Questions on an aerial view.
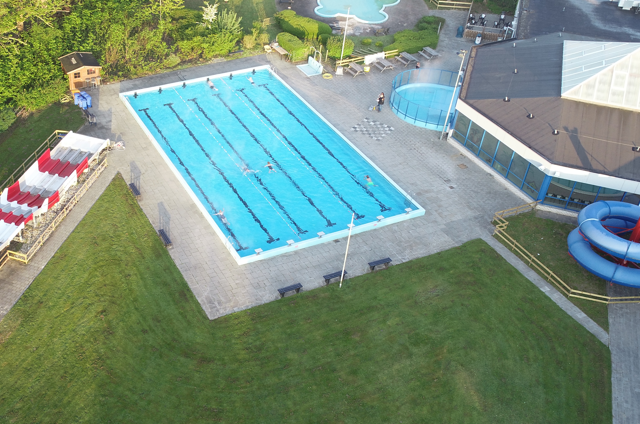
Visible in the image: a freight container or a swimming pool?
swimming pool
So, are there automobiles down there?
No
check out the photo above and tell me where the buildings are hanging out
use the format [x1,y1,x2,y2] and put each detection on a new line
[449,30,640,226]
[58,50,104,90]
